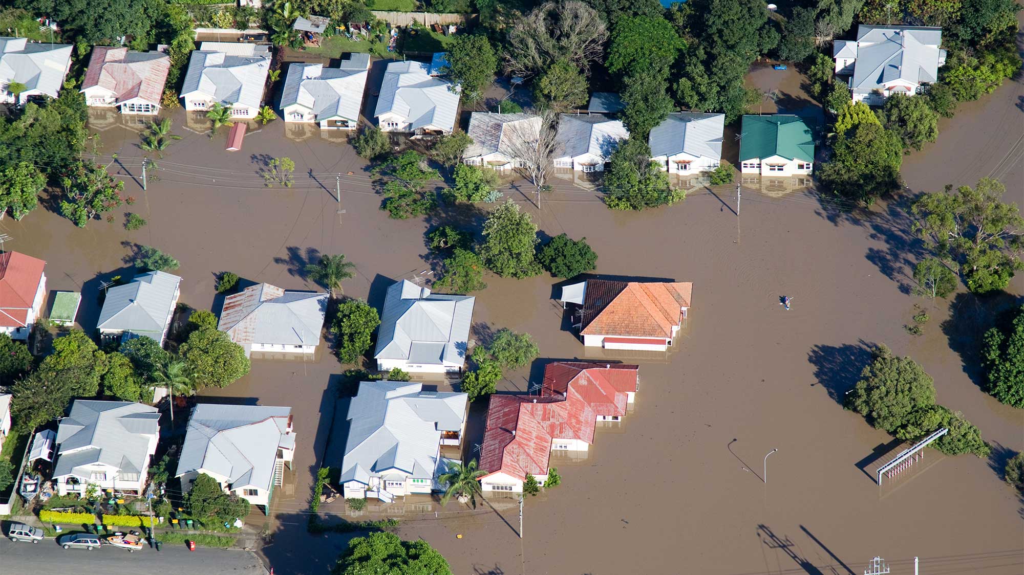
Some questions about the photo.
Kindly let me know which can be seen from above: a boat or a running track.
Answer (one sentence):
The one in the frame is a boat.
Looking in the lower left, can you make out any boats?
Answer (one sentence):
Yes, I can see a boat in the lower left.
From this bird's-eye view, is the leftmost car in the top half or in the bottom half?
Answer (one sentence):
Seen from above, the leftmost car lies in the bottom half of the view.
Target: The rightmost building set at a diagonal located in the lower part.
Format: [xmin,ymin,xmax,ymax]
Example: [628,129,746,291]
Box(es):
[471,362,639,490]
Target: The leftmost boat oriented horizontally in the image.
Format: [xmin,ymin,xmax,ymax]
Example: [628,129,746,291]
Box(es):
[100,533,146,556]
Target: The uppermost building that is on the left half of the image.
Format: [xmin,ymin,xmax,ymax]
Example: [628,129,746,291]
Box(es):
[293,15,331,49]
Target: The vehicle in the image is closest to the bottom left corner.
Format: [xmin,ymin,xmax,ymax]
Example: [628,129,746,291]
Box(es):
[6,523,45,544]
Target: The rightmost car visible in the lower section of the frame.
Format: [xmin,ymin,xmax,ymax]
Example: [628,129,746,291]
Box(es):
[58,532,100,551]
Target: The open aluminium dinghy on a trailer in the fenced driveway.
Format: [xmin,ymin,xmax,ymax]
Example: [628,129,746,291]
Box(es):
[21,472,39,507]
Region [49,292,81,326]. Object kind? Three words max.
shed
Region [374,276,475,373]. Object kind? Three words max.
house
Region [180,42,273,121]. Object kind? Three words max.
house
